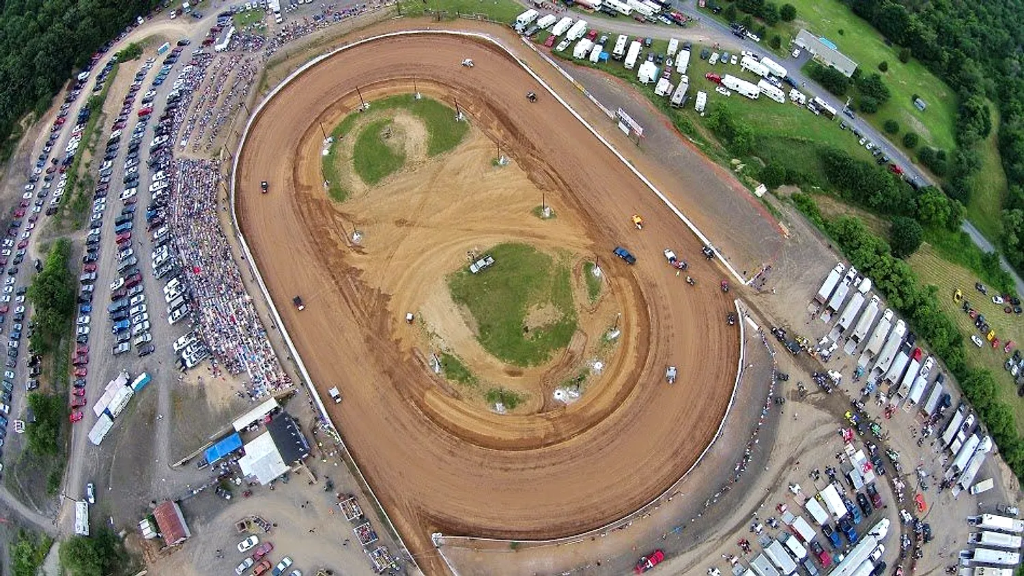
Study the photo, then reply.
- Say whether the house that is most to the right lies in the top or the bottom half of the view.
top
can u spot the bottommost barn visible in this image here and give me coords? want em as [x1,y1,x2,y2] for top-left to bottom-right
[153,502,198,547]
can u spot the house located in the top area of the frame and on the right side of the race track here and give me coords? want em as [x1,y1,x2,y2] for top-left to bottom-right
[792,29,858,80]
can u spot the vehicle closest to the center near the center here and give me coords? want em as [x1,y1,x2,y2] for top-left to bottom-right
[470,255,494,272]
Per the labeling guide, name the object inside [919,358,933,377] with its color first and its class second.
white vehicle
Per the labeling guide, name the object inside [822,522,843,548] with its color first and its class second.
blue truck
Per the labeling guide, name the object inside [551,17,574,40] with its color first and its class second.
white camper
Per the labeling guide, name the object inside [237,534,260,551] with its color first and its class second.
white car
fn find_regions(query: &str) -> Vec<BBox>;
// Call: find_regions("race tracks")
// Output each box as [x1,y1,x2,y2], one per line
[233,32,746,539]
